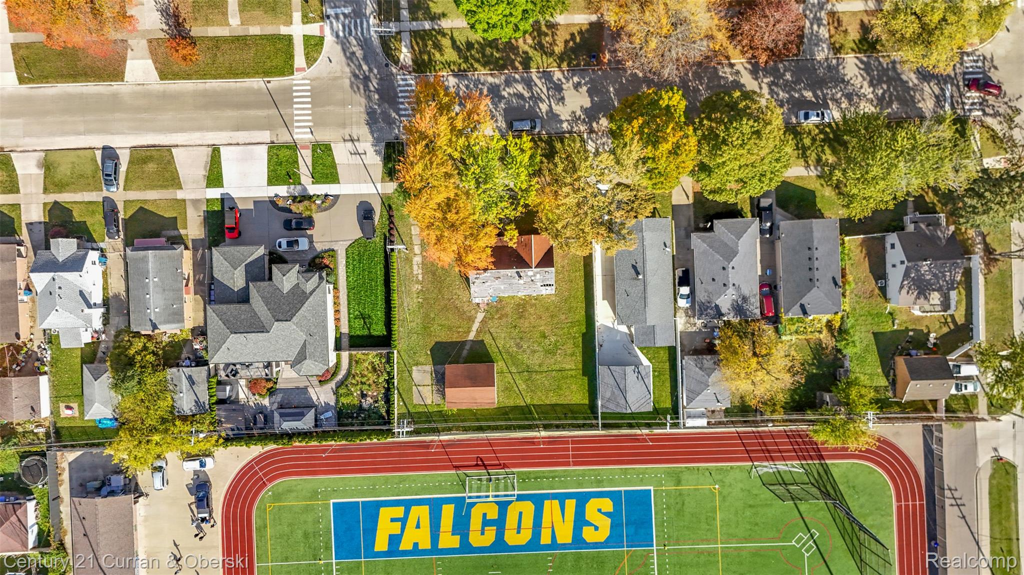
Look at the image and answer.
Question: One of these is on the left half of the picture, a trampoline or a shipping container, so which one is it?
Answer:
trampoline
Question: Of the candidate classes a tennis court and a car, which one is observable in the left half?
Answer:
car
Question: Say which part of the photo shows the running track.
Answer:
bottom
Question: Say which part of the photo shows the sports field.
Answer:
bottom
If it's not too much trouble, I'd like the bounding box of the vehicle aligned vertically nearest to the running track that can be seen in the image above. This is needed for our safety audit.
[194,479,213,520]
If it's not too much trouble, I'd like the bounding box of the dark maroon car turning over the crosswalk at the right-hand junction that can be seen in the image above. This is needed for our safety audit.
[967,78,1004,97]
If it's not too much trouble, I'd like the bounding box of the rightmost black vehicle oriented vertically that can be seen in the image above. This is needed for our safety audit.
[759,199,776,239]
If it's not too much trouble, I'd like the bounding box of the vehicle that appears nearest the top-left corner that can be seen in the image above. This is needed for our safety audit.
[102,158,120,190]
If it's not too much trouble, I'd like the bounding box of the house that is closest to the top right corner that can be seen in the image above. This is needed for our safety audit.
[887,214,965,314]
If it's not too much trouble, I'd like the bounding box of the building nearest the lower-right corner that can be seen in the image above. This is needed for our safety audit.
[895,357,954,402]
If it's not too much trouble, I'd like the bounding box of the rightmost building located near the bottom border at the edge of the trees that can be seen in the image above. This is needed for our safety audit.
[72,491,146,575]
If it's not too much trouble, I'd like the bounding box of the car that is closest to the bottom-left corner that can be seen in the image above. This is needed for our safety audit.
[151,458,170,492]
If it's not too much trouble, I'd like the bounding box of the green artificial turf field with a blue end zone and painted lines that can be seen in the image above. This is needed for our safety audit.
[255,463,898,575]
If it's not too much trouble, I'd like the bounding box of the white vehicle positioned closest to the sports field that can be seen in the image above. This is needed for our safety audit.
[182,455,215,471]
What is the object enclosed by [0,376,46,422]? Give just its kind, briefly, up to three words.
building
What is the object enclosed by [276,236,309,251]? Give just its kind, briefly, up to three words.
car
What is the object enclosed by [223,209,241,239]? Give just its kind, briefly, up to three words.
car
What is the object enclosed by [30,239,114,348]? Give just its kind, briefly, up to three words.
house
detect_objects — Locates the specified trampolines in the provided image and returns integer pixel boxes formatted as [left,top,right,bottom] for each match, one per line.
[13,458,48,487]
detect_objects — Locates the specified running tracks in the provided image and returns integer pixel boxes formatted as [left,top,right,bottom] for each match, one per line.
[219,425,930,575]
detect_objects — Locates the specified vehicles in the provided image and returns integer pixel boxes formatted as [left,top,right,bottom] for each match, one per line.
[950,380,981,395]
[194,479,213,520]
[759,199,776,239]
[967,78,1004,97]
[276,236,309,251]
[282,216,315,231]
[102,206,120,238]
[151,458,170,492]
[509,116,541,133]
[182,455,215,471]
[760,284,777,321]
[949,362,984,378]
[102,158,120,190]
[223,209,241,239]
[676,268,693,308]
[360,211,375,240]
